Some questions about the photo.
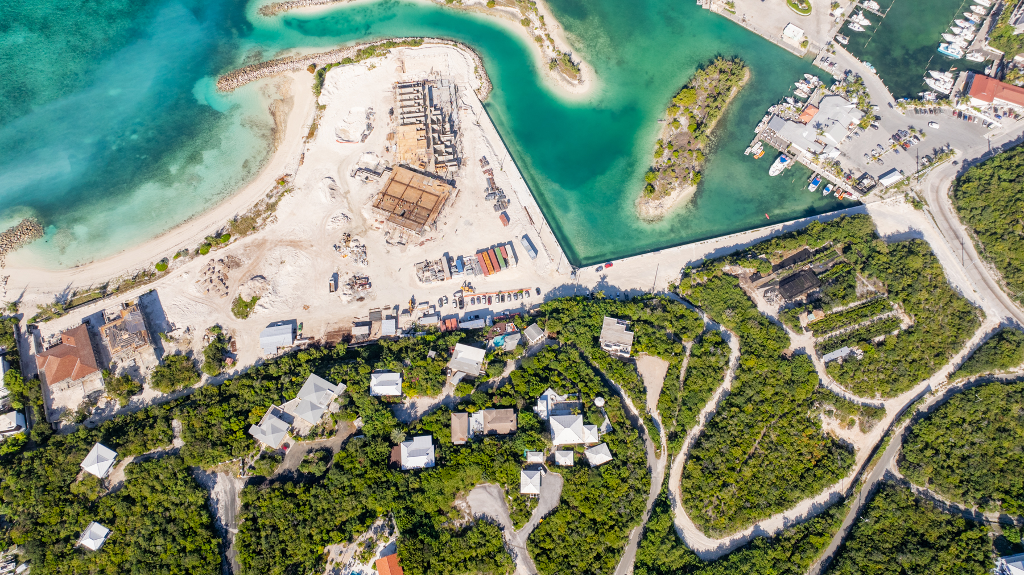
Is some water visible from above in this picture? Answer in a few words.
Yes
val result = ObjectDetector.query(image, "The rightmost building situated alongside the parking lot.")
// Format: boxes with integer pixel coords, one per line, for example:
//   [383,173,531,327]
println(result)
[963,74,1024,115]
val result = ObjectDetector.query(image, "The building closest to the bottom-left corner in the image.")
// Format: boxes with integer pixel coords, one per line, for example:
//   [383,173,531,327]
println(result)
[80,522,112,551]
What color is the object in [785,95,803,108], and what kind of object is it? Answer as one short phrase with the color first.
white boat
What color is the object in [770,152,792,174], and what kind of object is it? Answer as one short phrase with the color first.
white boat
